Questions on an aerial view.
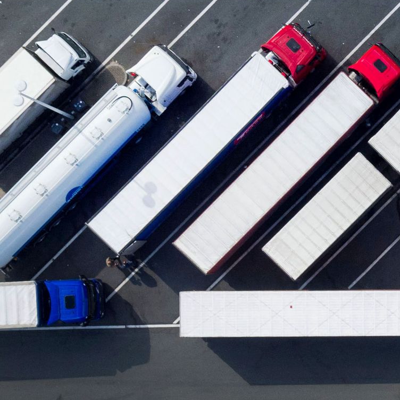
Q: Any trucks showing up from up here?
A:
Yes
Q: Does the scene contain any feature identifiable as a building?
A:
No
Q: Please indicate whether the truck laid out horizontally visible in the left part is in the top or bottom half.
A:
bottom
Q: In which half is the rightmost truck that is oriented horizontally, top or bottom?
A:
bottom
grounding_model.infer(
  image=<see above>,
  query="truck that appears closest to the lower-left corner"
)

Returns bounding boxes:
[0,276,109,328]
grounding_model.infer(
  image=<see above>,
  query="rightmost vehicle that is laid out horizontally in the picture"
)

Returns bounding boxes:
[179,289,400,337]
